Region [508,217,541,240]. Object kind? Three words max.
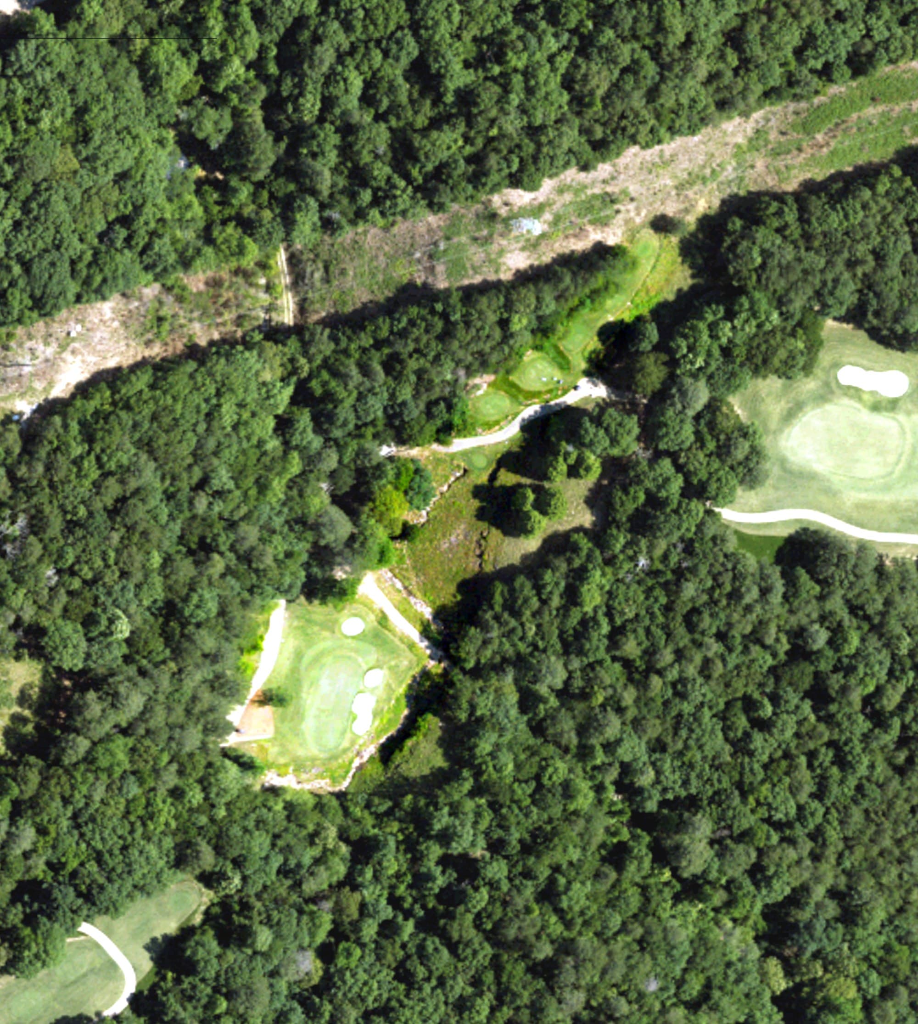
pylon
